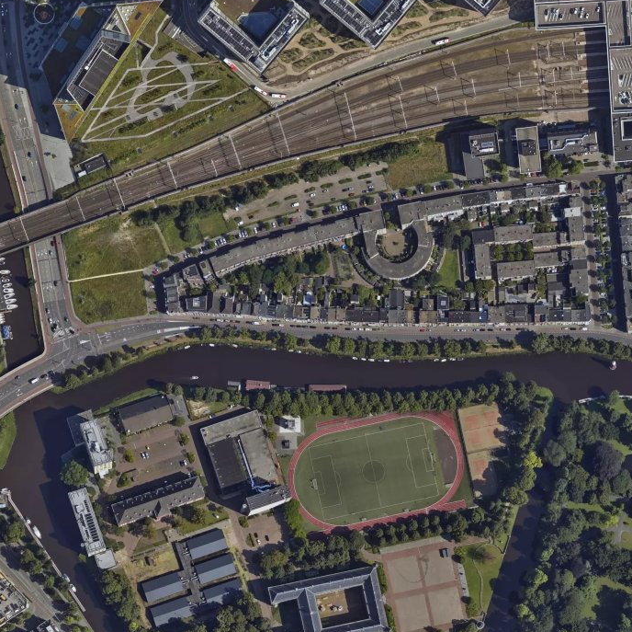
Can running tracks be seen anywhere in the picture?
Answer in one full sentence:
Yes, the frame does contain a running track.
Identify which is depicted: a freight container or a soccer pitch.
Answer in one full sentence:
I can see a soccer pitch in this picture.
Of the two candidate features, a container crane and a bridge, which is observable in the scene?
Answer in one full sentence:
I can see a bridge in this picture.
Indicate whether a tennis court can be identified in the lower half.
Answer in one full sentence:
Yes, a tennis court is visible in the lower half.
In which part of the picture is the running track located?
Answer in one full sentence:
Look in the bottom portion of the view to spot the running track.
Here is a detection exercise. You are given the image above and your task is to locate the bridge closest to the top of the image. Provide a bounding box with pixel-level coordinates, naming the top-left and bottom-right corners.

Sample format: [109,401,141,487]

[0,23,610,257]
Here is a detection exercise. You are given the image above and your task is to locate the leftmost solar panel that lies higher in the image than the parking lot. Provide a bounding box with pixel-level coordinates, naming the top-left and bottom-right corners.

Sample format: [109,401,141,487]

[205,11,255,59]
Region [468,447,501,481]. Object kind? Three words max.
tennis court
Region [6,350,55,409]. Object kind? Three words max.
bridge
